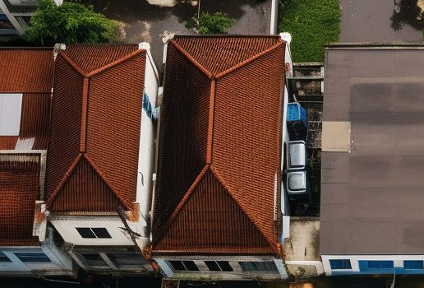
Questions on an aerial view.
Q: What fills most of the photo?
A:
buildings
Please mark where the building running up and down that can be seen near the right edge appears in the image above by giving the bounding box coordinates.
[320,49,424,276]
